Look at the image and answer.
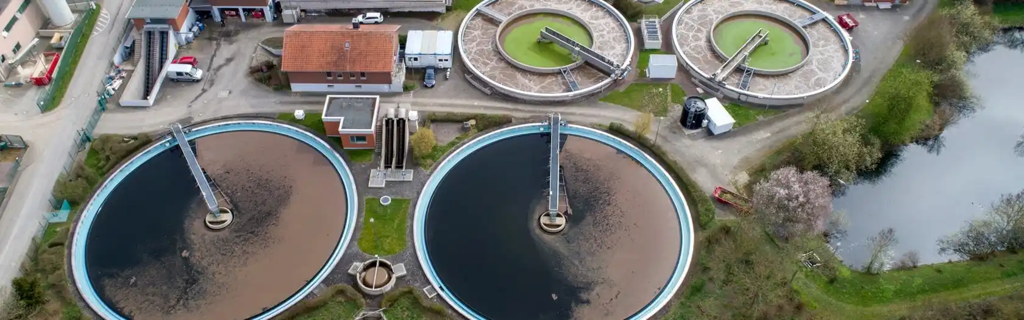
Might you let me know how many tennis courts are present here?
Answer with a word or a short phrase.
0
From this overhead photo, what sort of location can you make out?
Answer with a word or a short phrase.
industrial area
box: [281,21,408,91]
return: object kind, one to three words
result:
house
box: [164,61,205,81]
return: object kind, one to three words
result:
vehicle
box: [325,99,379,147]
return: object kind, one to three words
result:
building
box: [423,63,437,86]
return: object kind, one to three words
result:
car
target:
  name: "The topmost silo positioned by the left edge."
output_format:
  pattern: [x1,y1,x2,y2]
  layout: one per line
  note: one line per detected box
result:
[35,0,81,29]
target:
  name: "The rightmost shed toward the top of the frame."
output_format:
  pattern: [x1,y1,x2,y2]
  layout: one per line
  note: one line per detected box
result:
[702,94,737,133]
